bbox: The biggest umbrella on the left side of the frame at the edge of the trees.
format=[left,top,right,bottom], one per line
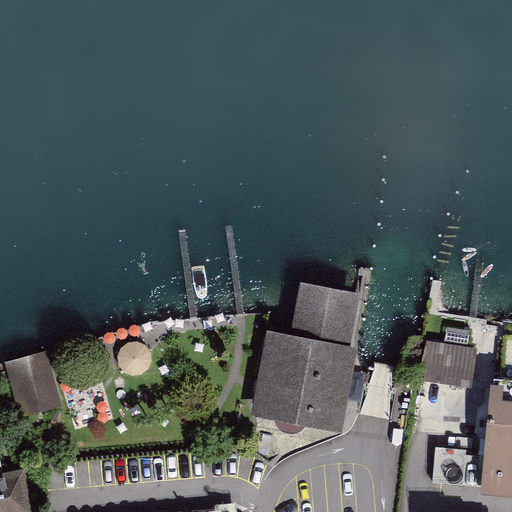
[118,342,152,376]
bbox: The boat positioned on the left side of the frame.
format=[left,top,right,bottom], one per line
[192,265,206,298]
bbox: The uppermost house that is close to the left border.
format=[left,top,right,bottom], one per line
[5,350,62,414]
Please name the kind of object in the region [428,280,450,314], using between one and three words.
pier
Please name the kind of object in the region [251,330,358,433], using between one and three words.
building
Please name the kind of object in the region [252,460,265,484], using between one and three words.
vehicle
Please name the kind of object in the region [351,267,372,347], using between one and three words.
pier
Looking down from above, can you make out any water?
Yes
